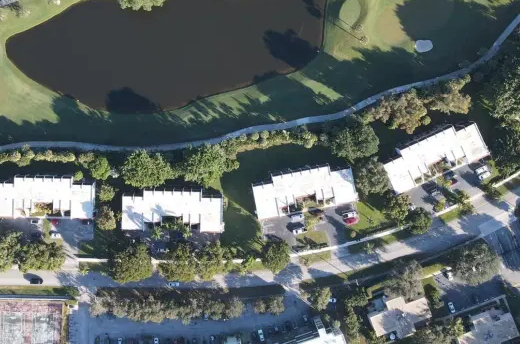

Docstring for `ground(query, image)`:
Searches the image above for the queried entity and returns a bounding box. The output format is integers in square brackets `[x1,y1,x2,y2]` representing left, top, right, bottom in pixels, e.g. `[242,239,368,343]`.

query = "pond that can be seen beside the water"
[5,0,327,113]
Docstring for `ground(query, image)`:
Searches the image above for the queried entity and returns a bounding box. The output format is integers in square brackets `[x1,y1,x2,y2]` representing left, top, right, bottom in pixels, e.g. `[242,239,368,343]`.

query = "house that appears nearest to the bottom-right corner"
[458,308,520,344]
